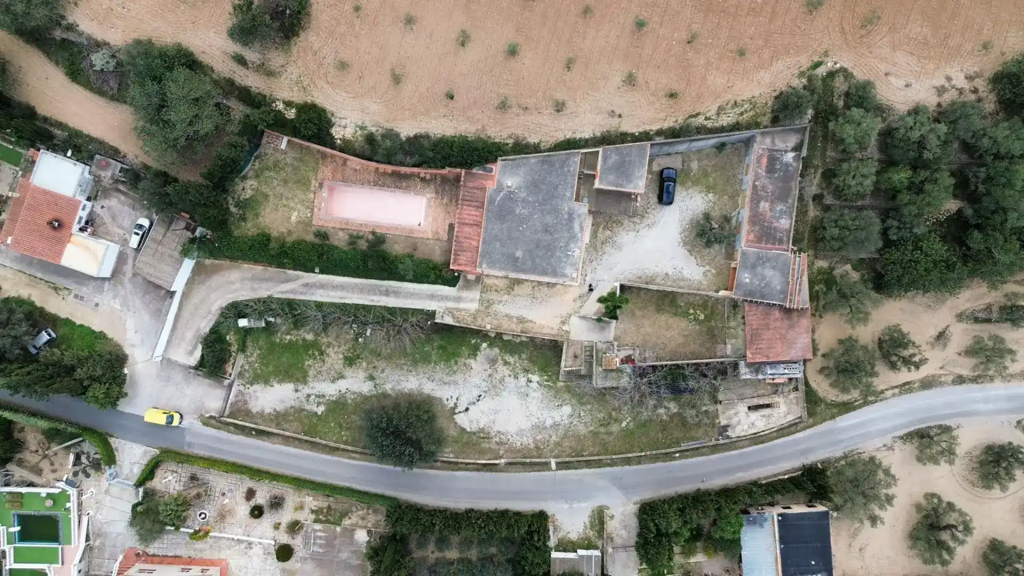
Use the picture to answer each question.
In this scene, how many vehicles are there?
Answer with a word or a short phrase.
4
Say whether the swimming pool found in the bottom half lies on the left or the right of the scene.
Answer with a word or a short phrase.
left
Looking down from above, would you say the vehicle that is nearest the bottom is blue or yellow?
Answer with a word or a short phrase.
yellow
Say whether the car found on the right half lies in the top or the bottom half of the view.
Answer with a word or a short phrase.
top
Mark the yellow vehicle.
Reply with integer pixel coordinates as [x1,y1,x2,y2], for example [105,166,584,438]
[141,407,182,429]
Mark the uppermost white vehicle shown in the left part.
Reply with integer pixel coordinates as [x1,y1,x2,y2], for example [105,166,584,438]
[123,214,152,250]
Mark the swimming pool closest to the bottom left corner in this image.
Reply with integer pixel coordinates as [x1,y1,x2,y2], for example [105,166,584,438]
[8,512,63,545]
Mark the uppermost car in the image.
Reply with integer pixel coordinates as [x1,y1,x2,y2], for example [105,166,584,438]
[657,166,678,206]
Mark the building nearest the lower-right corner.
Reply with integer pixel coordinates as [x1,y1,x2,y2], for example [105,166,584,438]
[771,502,840,576]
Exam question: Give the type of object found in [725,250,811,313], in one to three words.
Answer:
shed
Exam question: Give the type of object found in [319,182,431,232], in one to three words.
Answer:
swimming pool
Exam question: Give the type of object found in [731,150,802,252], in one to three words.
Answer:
shed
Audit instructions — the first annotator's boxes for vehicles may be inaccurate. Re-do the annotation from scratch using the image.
[141,407,182,429]
[123,214,152,250]
[657,166,678,206]
[22,326,57,357]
